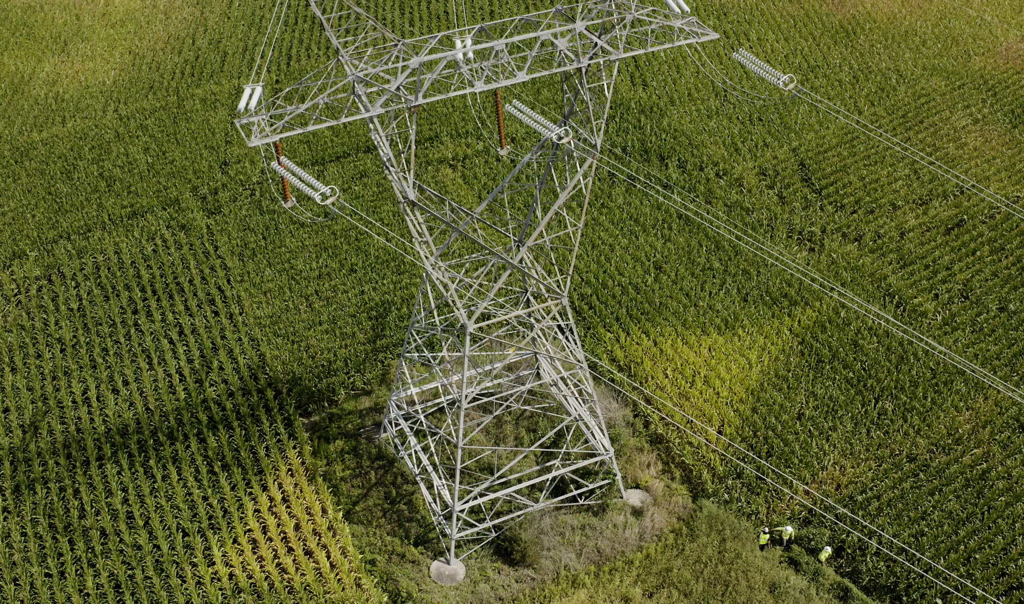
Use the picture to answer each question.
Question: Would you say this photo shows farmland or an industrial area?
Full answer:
This image shows farmland.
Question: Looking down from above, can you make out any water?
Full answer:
No, there is no water in the image.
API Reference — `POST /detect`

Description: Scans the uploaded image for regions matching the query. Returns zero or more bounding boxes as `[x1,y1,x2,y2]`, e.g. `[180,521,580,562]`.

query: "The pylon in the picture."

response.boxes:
[235,0,719,561]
